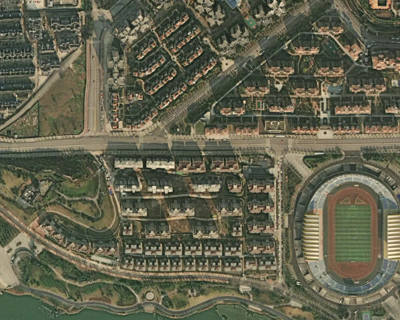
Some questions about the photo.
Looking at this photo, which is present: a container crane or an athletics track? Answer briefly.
athletics track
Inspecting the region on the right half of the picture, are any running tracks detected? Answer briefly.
Yes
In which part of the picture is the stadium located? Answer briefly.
bottom right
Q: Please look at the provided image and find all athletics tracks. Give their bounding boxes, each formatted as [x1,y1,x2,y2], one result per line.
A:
[329,188,377,280]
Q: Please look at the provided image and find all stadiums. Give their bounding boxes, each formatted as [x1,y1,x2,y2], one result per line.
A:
[288,156,400,312]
